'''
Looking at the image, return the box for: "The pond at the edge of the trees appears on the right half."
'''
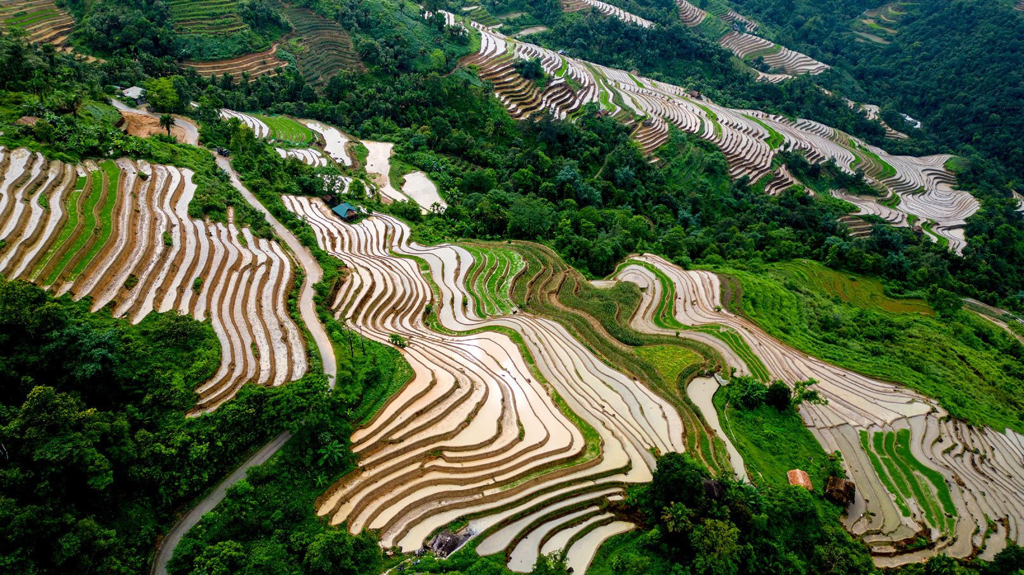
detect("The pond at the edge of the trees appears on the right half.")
[689,376,748,483]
